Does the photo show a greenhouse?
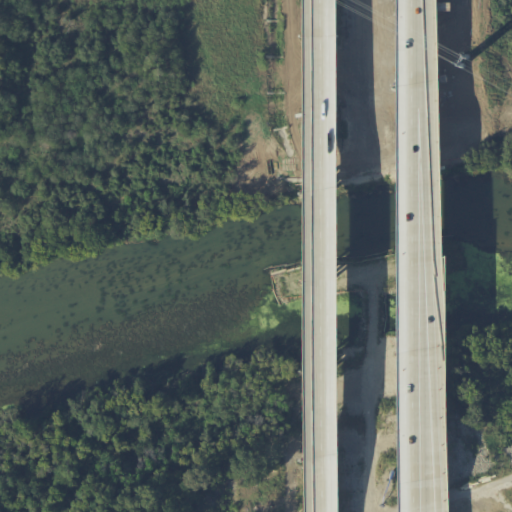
No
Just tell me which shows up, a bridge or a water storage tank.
bridge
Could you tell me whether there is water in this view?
Yes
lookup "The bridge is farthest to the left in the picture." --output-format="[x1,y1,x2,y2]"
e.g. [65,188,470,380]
[296,0,338,512]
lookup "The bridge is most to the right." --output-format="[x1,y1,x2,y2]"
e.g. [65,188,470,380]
[394,0,452,512]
